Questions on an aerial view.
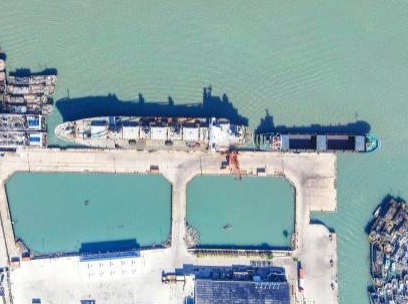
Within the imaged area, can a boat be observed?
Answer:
Yes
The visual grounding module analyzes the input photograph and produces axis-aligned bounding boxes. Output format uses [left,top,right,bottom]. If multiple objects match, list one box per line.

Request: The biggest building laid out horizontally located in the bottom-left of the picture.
[79,257,139,277]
